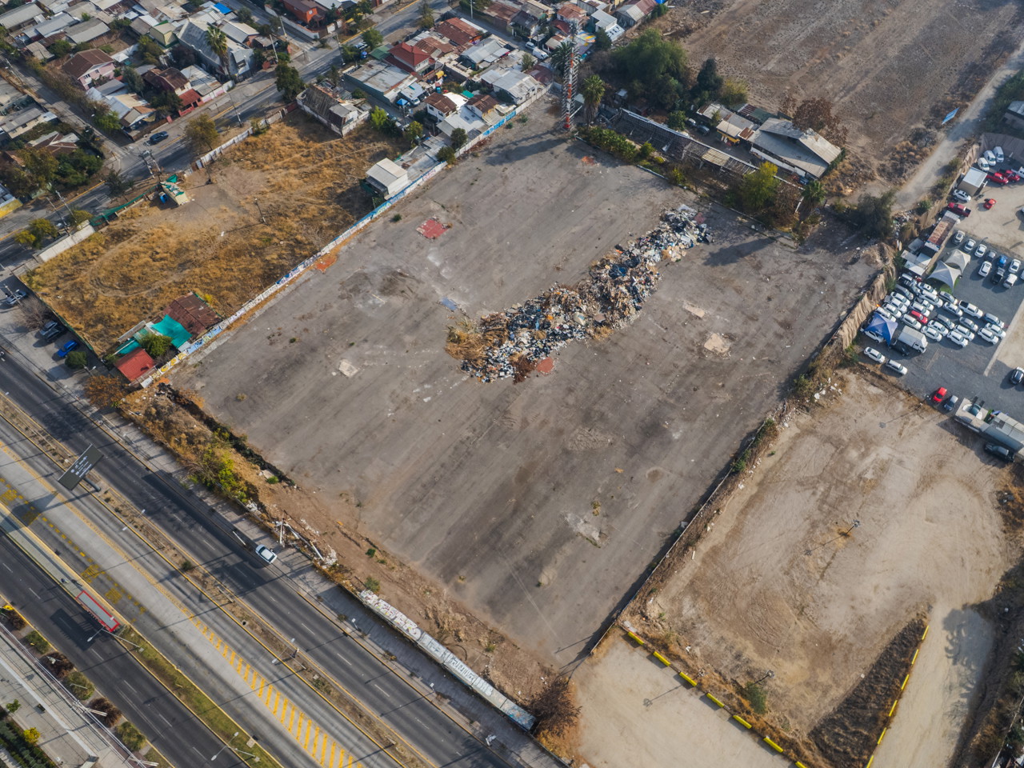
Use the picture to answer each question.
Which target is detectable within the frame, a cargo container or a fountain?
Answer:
cargo container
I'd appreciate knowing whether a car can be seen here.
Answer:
Yes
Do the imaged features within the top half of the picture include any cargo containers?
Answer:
Yes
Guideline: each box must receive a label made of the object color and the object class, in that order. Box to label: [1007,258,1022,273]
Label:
white car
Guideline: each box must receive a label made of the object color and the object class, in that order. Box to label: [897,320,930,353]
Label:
white truck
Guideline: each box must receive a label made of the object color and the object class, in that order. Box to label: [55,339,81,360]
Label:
blue car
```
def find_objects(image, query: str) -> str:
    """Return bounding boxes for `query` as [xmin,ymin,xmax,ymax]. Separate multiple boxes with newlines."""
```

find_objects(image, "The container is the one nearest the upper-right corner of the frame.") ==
[920,215,959,256]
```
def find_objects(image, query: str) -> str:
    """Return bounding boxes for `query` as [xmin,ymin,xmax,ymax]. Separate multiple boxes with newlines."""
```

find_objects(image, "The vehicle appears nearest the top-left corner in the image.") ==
[149,131,168,144]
